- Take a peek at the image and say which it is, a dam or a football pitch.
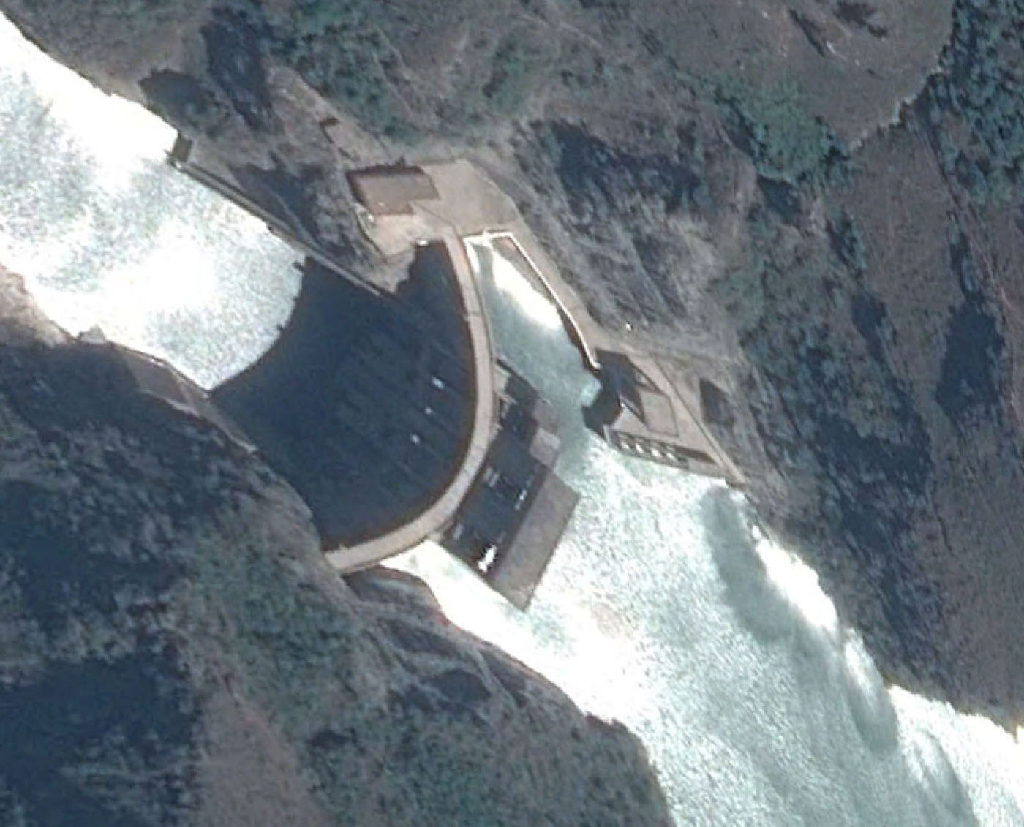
dam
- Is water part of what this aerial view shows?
Yes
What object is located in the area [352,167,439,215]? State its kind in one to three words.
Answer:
building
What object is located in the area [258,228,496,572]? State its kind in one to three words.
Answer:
dam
